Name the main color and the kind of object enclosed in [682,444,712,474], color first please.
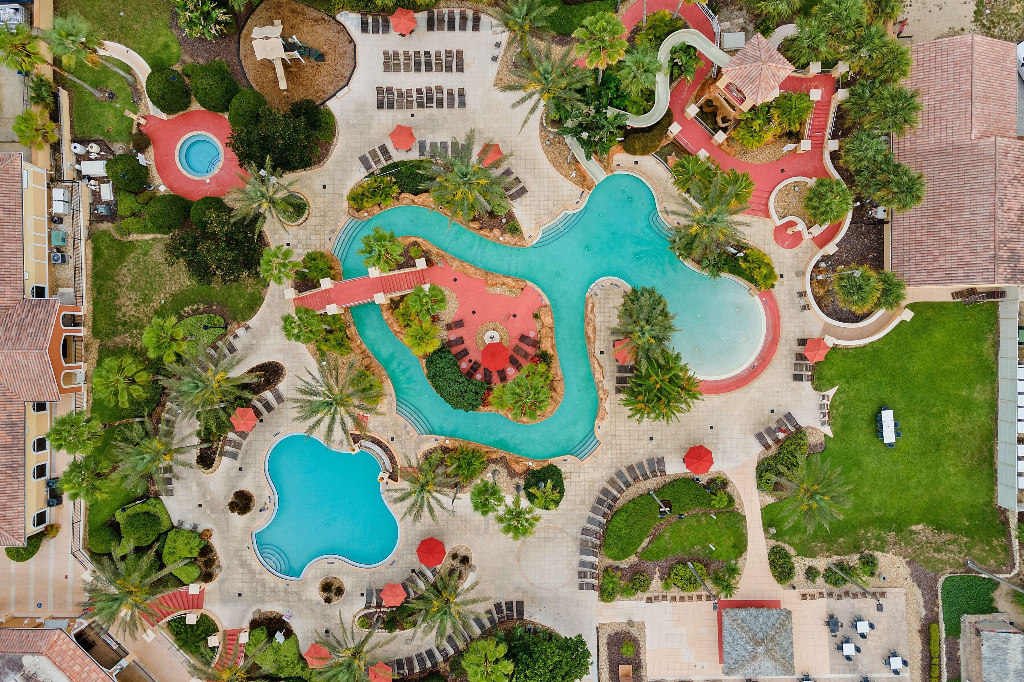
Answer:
red umbrella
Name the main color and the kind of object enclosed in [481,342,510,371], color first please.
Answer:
red umbrella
